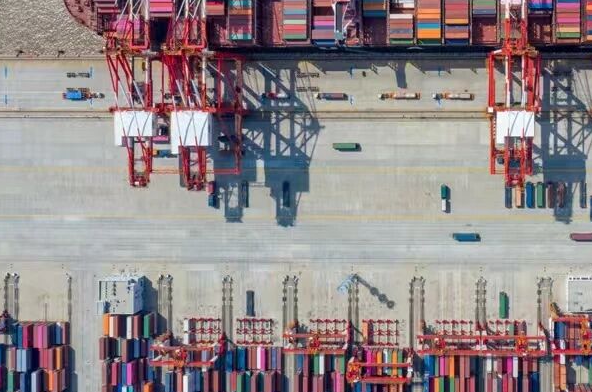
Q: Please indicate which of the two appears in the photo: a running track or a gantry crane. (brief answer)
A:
gantry crane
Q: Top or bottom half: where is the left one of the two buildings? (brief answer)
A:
bottom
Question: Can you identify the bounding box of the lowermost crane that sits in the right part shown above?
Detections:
[347,346,415,381]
